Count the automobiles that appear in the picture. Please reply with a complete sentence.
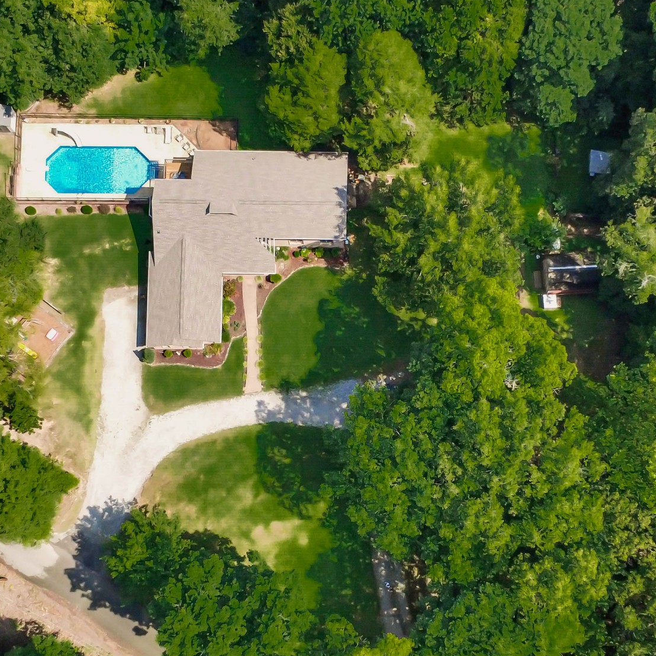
The photo contains no automobiles.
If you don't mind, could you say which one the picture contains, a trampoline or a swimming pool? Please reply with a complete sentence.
Visible in the photo is a swimming pool.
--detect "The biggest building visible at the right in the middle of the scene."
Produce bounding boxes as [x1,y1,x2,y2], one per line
[536,250,601,298]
